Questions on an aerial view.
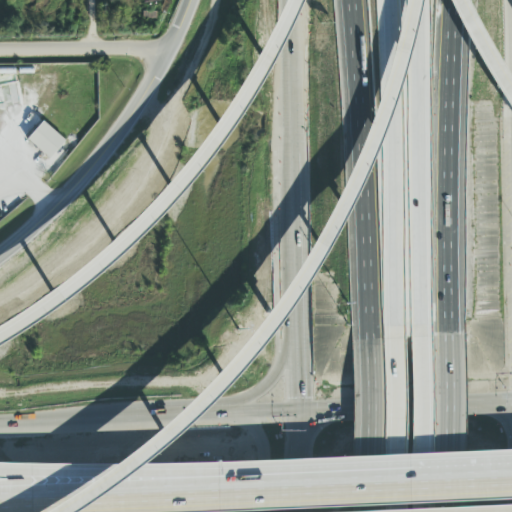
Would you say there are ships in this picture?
No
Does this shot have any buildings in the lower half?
No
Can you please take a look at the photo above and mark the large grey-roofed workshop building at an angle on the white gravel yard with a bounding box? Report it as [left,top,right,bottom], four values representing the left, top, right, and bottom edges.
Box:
[28,120,66,158]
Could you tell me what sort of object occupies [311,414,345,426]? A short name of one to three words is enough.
vehicle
